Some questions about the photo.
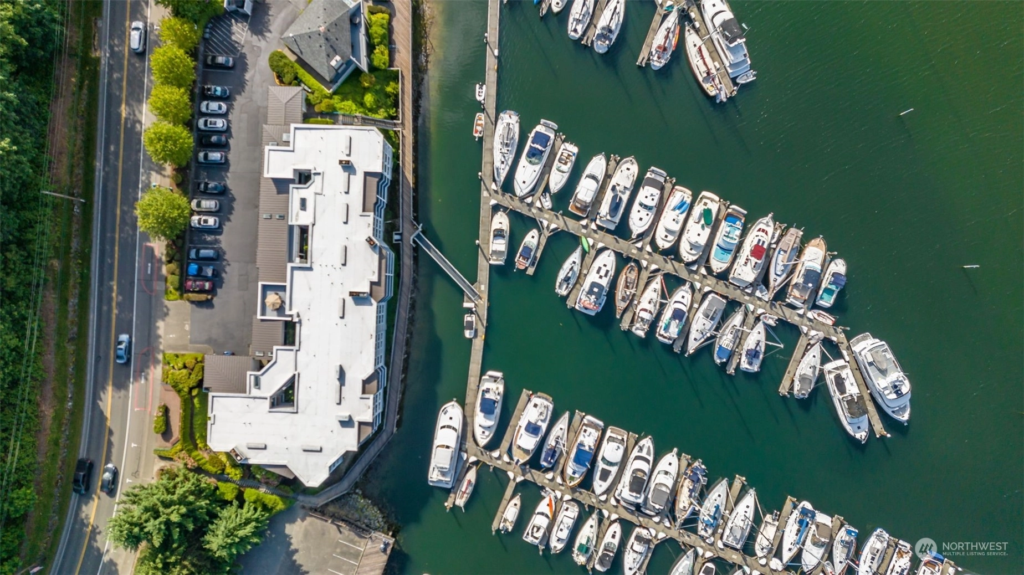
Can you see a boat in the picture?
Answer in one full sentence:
Yes, looking at the shot, I can spot a boat.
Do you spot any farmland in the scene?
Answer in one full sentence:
No, the picture contains no farmland.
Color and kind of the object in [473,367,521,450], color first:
white boat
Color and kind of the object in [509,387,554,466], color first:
white boat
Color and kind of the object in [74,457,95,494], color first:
black truck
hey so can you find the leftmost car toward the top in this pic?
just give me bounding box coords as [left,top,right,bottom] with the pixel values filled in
[128,21,147,54]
